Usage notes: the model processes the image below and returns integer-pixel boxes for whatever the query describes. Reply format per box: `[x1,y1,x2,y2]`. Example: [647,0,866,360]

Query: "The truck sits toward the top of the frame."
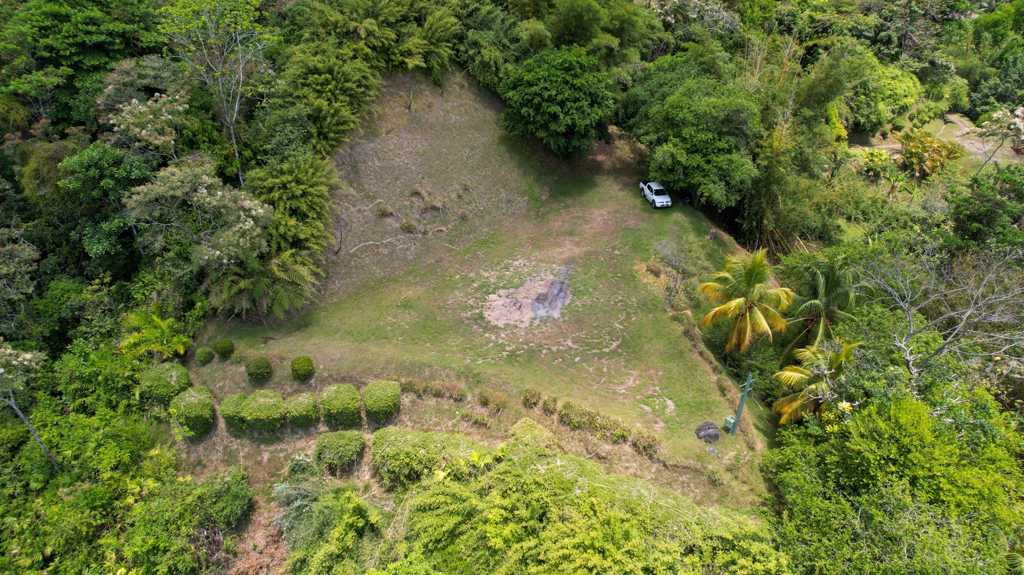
[638,181,673,209]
